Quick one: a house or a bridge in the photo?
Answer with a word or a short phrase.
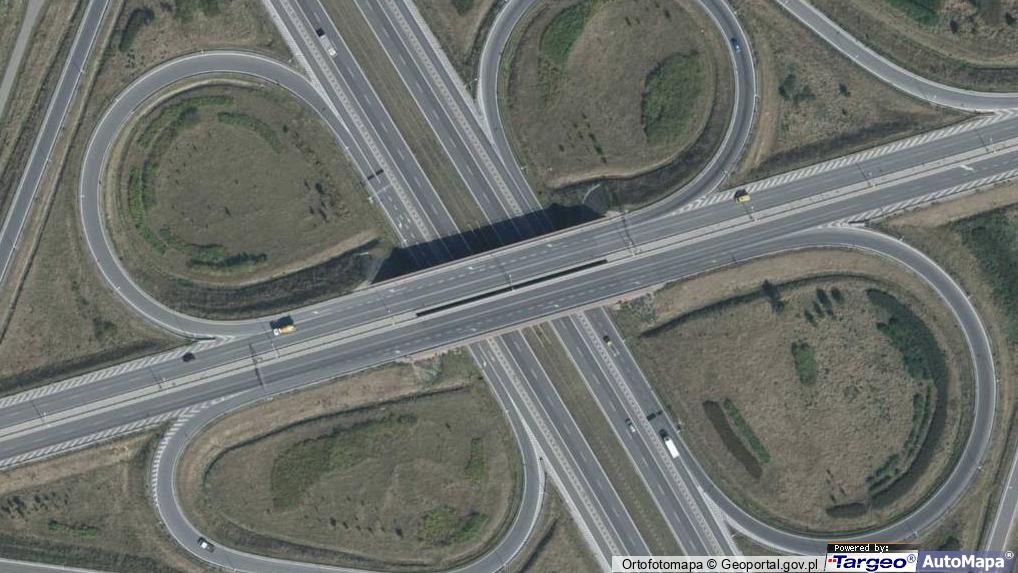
bridge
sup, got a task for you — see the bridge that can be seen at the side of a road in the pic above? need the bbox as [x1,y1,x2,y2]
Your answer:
[322,208,666,362]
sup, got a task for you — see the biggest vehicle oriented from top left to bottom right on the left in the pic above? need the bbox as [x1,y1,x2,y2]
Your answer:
[320,34,336,56]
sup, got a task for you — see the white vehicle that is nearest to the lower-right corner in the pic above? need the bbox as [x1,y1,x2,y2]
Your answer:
[661,434,679,456]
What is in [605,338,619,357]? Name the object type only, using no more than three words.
vehicle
